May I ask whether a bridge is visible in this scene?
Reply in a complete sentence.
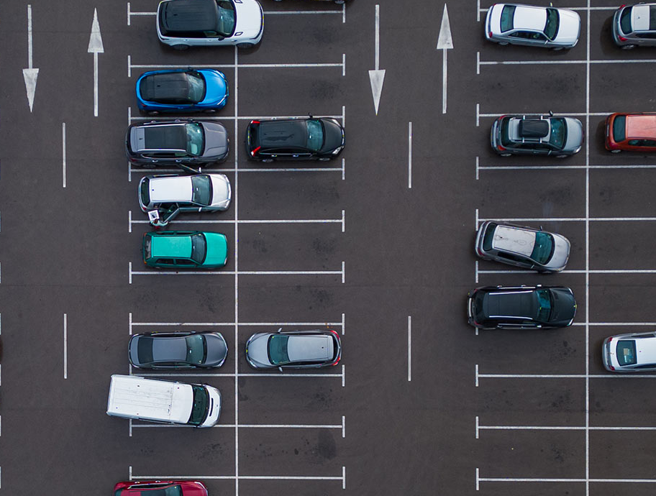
No, I can't see a single bridge in this photo.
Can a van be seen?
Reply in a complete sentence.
Yes, you can see a van in this photo.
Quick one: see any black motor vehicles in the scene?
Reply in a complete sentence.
Yes, this view includes a black motor vehicle.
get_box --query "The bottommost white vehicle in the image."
[108,372,221,431]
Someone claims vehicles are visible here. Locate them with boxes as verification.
[143,226,229,271]
[472,219,572,271]
[465,282,580,333]
[598,331,656,375]
[600,112,656,154]
[244,326,342,373]
[245,115,347,165]
[609,2,656,52]
[114,476,208,496]
[139,161,232,221]
[128,326,227,374]
[108,372,221,431]
[156,0,265,52]
[135,66,230,117]
[488,110,585,159]
[126,117,230,168]
[482,0,581,51]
